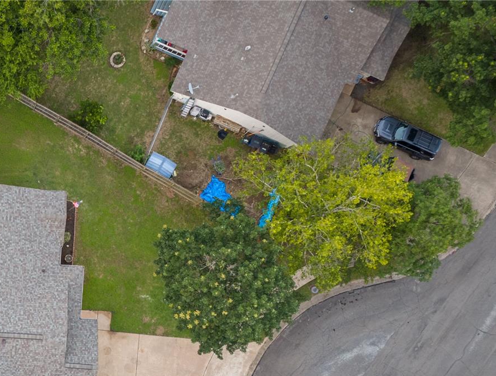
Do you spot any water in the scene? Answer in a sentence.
No, the picture contains no water.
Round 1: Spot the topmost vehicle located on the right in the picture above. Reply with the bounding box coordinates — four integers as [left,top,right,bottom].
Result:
[373,115,444,160]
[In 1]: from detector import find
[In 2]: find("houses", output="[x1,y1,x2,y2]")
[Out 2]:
[151,0,410,158]
[0,186,98,376]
